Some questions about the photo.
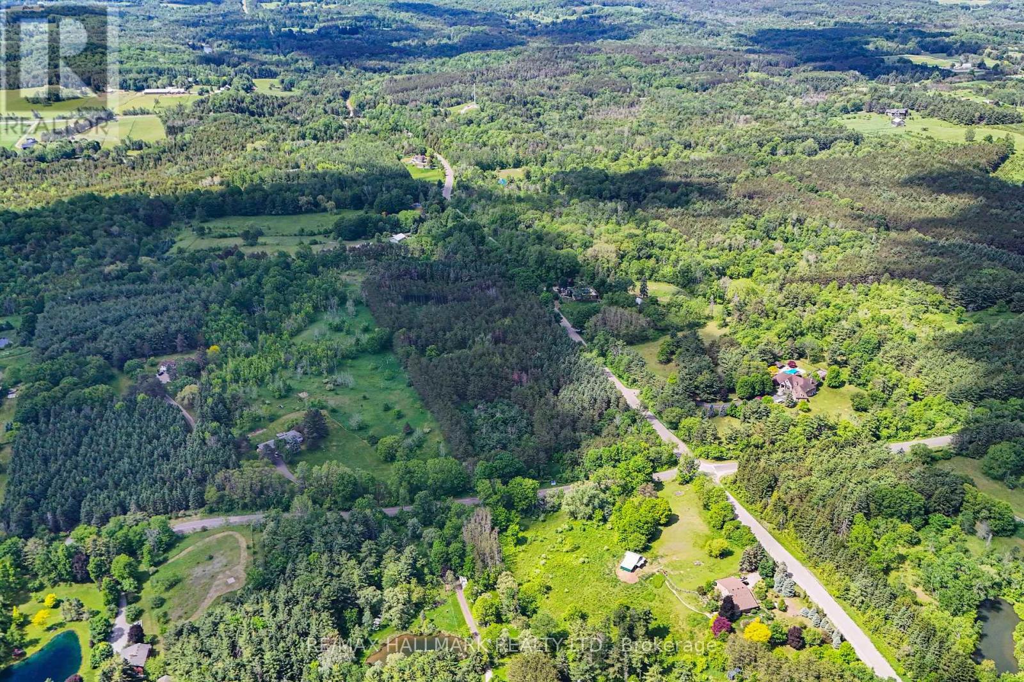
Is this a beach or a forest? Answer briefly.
forest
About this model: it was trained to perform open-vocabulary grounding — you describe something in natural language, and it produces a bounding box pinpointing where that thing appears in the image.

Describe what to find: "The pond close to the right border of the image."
[972,597,1024,676]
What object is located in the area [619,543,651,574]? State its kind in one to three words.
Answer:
barn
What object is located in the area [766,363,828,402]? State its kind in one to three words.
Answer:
house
